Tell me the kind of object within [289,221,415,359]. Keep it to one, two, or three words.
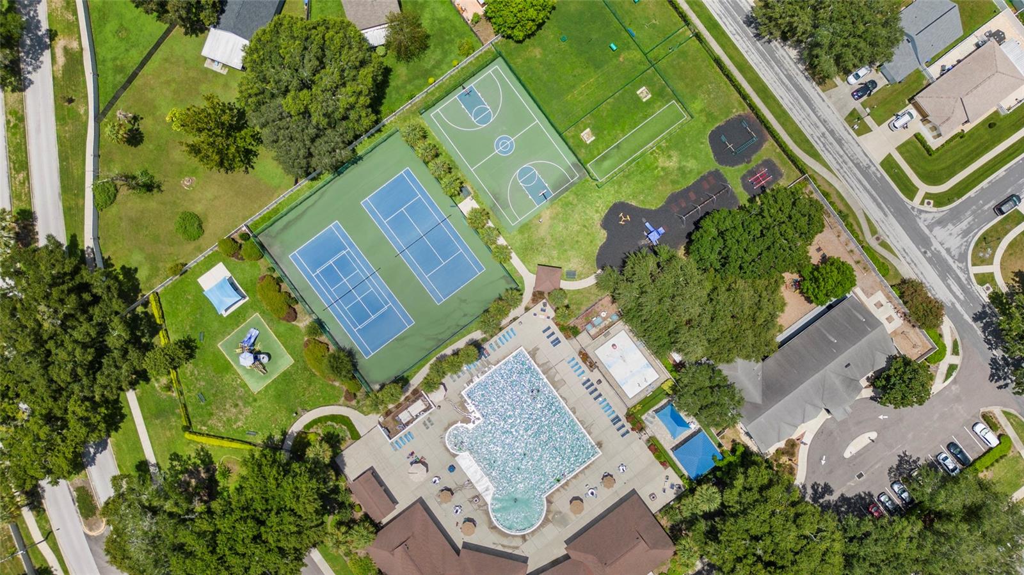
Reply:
tennis court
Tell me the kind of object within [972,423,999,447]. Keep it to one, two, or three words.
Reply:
car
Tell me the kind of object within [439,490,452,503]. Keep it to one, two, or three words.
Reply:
umbrella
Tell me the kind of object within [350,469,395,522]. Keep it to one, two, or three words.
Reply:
building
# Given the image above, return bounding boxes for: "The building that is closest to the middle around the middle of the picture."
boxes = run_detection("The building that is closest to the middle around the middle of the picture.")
[535,264,561,291]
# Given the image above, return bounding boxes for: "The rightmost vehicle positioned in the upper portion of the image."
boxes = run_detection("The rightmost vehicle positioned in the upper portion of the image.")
[992,195,1020,216]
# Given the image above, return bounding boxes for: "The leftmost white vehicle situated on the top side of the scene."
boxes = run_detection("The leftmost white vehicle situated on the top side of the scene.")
[844,64,870,85]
